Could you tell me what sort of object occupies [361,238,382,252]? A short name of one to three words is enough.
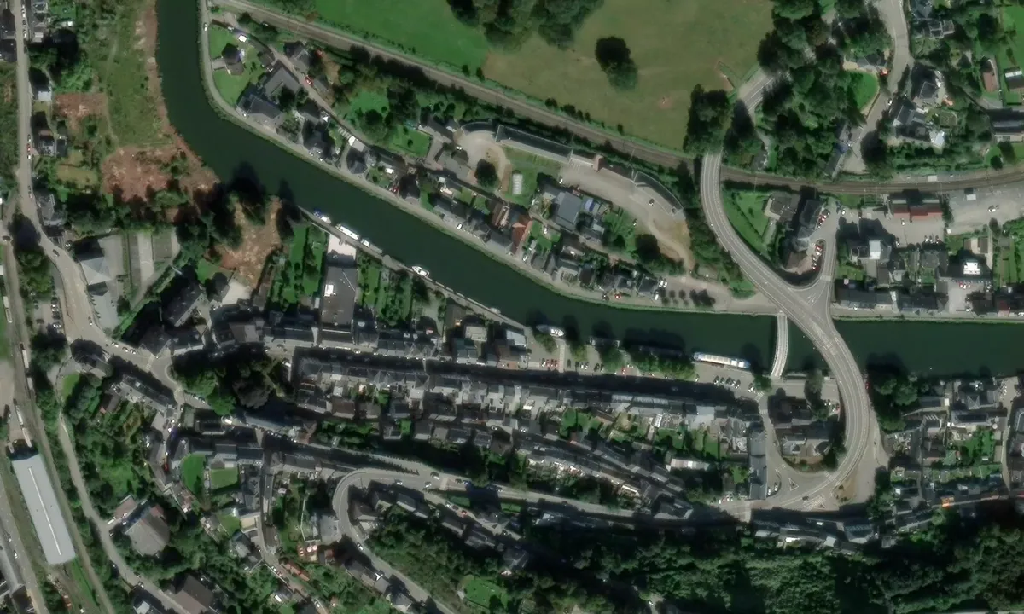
vessel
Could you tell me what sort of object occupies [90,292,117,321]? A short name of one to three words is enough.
building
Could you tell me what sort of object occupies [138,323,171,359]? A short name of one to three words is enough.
house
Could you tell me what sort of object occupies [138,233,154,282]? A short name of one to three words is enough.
tennis court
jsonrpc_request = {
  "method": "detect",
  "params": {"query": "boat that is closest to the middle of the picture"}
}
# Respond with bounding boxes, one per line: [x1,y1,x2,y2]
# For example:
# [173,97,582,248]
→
[537,325,565,338]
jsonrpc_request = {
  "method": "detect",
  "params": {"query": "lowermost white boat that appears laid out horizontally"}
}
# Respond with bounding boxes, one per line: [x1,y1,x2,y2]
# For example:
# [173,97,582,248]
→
[693,353,750,369]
